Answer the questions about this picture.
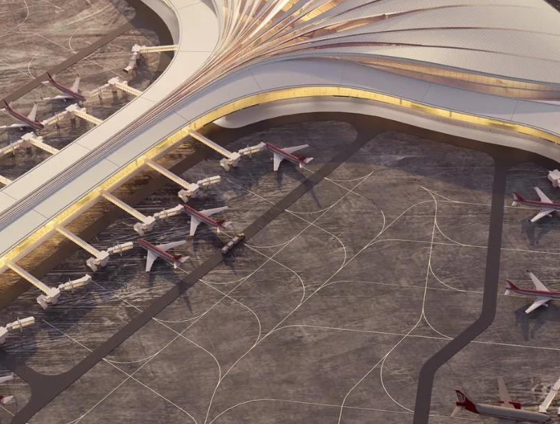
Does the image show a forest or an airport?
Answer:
airport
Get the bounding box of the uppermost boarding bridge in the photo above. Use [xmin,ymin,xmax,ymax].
[124,45,177,76]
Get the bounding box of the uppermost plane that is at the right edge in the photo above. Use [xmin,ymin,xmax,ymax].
[513,176,560,215]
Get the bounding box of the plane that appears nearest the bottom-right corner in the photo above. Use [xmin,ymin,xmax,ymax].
[450,367,551,424]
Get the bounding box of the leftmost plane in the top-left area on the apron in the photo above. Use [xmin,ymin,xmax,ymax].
[0,89,42,126]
